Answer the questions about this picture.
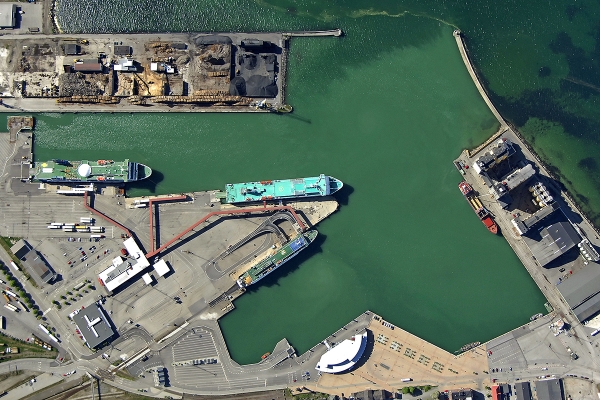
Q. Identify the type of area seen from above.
port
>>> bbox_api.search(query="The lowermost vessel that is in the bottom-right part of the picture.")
[460,339,482,353]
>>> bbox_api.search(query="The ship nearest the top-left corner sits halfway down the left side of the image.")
[35,159,152,183]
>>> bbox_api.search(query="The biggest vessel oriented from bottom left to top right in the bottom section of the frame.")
[238,229,319,289]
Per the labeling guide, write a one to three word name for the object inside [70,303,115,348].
building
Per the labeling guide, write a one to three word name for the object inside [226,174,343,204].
ship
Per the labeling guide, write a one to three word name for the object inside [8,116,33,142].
pier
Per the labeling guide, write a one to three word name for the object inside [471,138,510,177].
building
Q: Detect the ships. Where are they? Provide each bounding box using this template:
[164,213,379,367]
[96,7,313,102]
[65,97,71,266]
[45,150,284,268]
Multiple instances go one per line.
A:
[455,180,499,234]
[238,229,319,289]
[460,339,482,353]
[35,159,152,183]
[226,174,343,204]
